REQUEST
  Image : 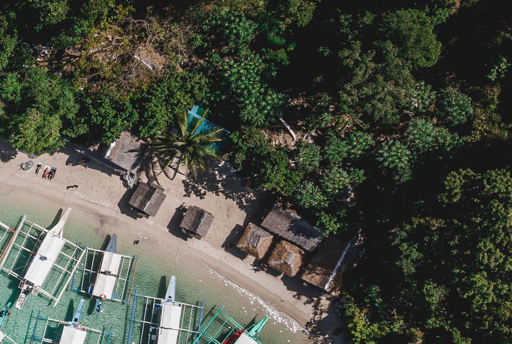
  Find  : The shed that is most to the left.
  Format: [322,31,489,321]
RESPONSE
[86,134,143,172]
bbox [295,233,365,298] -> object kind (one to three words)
shed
